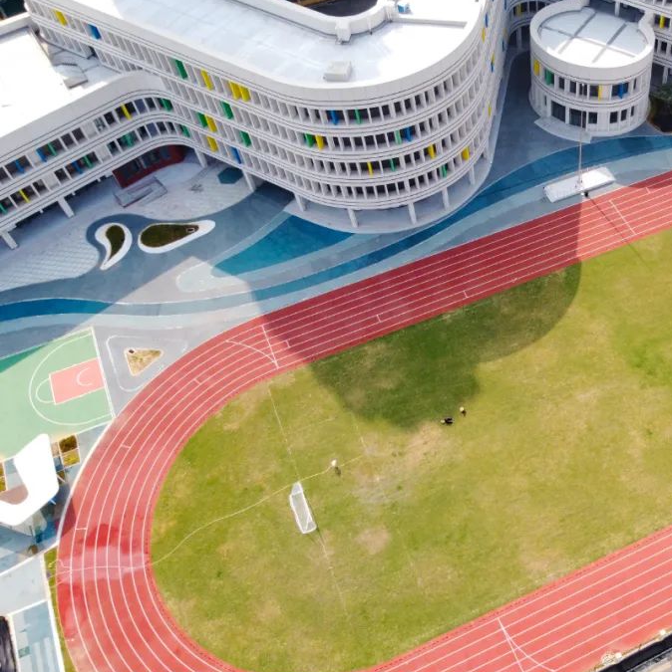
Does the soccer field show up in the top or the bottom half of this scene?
bottom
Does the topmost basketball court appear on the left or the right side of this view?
left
